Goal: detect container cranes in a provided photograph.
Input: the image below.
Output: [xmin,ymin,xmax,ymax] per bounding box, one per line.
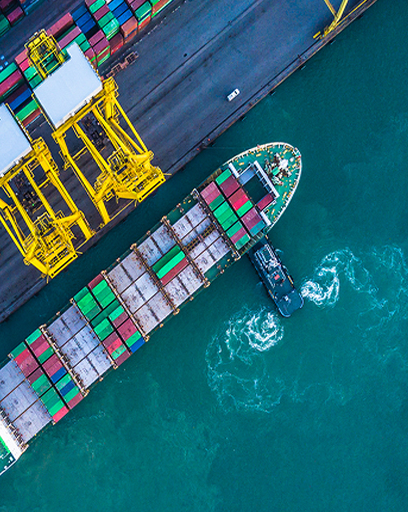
[0,105,99,283]
[18,28,173,231]
[313,0,369,44]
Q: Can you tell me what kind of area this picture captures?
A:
port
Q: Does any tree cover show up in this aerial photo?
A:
No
